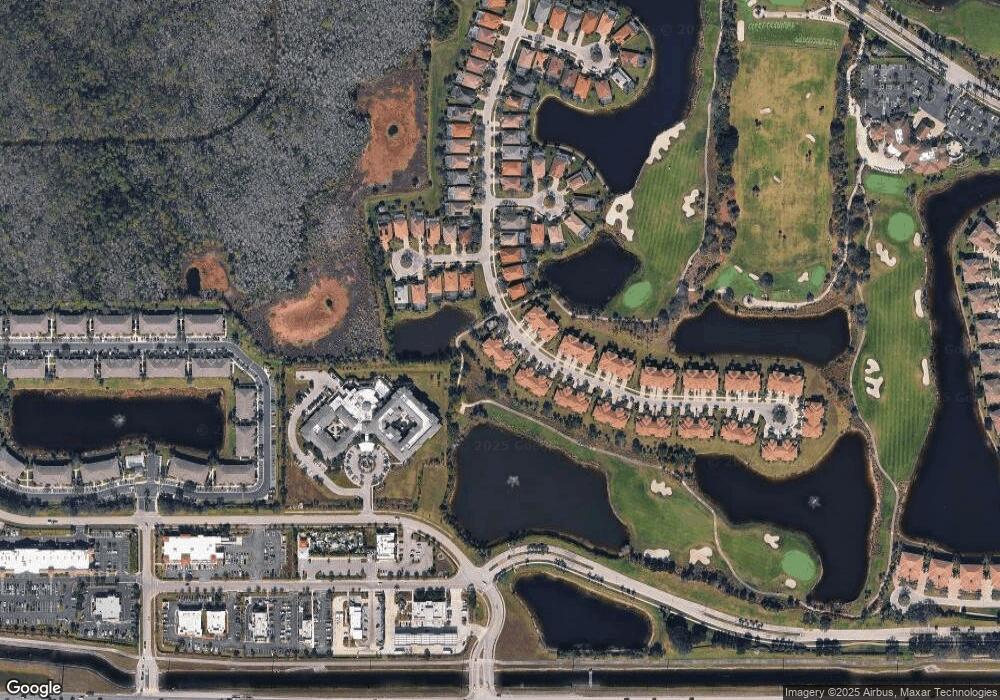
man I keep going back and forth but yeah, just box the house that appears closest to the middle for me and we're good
[482,337,519,370]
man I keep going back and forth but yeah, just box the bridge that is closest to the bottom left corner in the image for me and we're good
[136,666,159,691]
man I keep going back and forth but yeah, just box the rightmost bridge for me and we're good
[469,666,494,691]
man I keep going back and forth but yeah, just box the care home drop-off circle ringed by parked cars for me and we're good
[342,441,391,488]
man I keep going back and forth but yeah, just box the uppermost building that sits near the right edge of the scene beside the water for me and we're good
[870,119,962,172]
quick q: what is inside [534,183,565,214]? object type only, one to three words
roundabout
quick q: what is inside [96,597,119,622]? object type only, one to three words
building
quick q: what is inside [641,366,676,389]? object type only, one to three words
house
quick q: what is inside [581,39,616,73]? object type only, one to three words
roundabout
